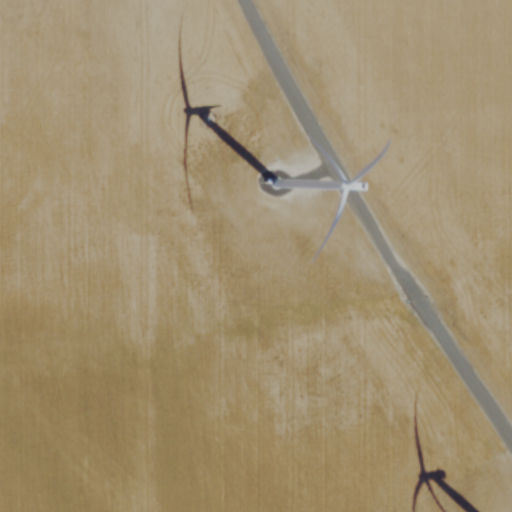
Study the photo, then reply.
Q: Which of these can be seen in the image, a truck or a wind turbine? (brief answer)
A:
wind turbine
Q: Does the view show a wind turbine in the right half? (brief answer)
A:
Yes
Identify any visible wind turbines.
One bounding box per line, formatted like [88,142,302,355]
[270,129,396,265]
